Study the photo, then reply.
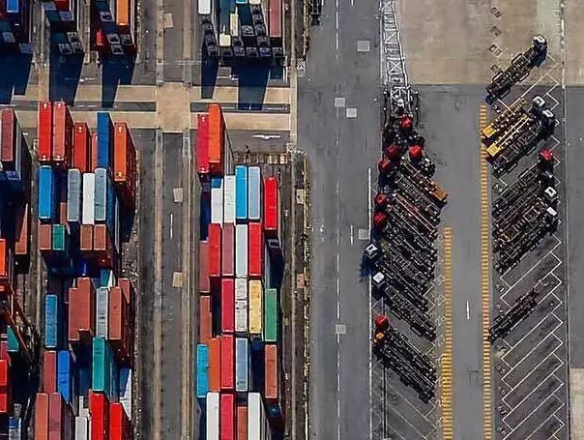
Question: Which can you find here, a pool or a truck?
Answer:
truck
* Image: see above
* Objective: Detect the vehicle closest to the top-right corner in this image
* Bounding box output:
[493,35,548,95]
